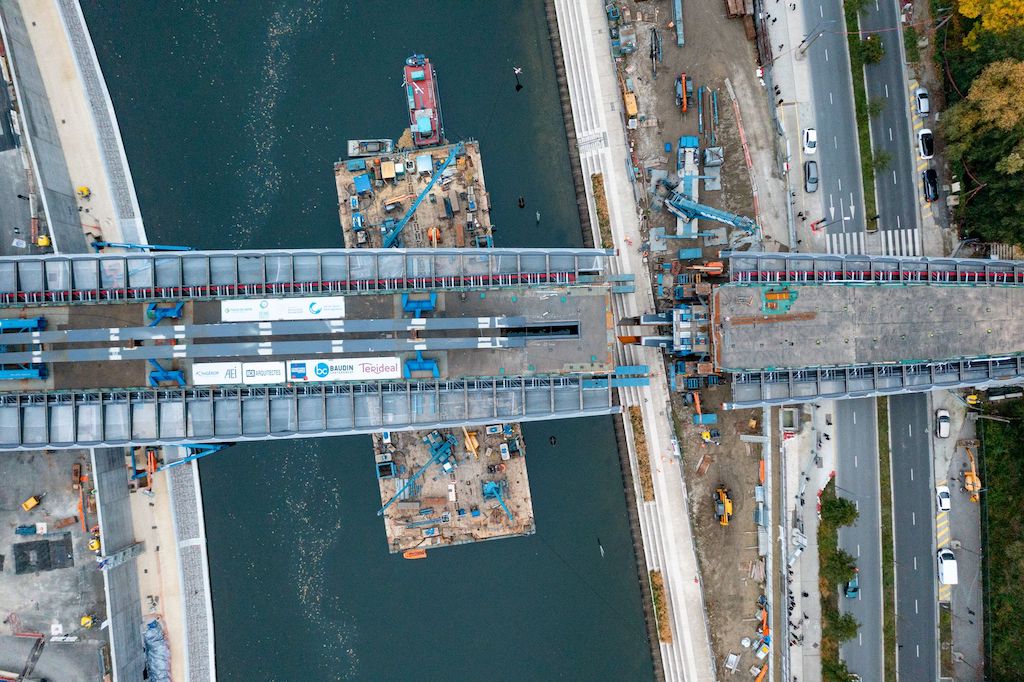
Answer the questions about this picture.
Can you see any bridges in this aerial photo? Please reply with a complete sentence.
Yes, a bridge can be made out from above.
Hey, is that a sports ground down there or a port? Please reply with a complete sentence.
It's a port.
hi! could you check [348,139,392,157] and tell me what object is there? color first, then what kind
gray boat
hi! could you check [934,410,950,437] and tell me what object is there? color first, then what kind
white car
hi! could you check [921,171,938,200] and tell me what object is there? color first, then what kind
black car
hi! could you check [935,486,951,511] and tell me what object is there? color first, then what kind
white car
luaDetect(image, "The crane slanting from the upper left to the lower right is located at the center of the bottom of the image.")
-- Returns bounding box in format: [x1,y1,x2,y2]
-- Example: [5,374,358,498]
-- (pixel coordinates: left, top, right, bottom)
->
[479,478,515,523]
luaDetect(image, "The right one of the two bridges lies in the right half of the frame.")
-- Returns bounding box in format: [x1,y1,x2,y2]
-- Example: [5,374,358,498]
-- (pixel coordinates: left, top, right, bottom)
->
[707,251,1024,411]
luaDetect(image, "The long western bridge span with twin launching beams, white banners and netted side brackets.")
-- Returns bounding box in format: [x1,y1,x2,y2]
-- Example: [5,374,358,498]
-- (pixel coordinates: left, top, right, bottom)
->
[0,249,624,450]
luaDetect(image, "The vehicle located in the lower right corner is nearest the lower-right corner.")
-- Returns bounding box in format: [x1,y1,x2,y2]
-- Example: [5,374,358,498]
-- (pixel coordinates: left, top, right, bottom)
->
[937,548,958,586]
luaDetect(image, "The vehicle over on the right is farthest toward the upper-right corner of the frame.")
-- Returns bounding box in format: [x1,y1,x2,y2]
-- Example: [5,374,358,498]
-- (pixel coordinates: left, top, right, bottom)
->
[913,88,929,116]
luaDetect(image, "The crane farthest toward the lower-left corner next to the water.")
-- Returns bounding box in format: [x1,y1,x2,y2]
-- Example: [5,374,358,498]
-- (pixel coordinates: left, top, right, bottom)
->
[375,430,459,517]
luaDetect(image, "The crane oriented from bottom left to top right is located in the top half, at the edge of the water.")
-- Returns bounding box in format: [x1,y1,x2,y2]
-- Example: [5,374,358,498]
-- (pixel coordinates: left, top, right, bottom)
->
[373,140,465,247]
